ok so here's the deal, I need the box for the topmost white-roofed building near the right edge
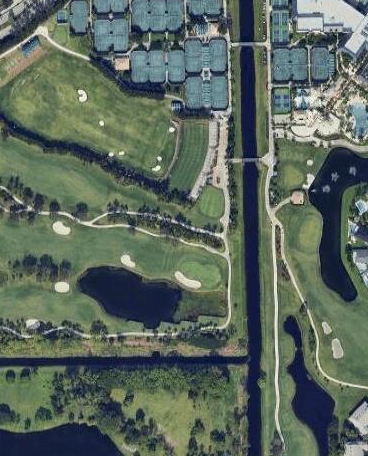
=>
[297,0,366,32]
